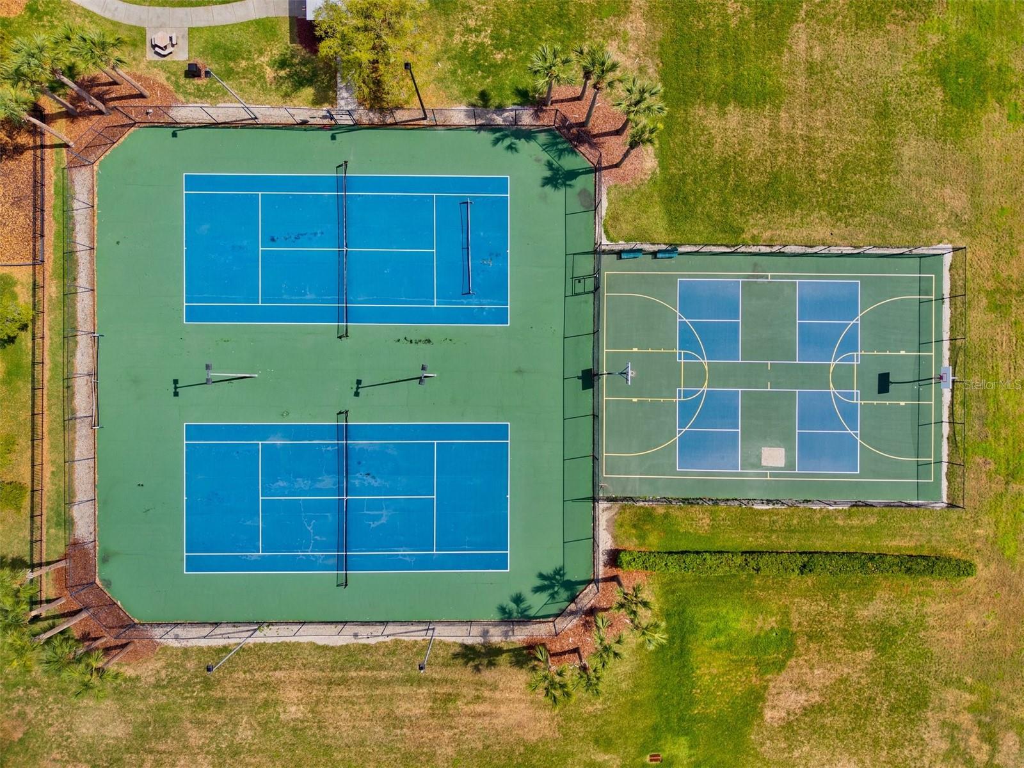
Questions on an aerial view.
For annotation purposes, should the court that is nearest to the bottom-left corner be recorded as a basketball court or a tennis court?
tennis court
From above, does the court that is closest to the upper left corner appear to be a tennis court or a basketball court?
tennis court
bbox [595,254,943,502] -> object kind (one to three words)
basketball court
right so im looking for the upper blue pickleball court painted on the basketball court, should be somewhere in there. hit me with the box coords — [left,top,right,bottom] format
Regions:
[677,279,860,363]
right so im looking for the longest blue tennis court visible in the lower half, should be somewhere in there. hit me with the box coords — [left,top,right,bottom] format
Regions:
[184,423,510,573]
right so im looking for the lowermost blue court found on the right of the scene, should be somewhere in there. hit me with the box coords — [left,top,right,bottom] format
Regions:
[677,388,860,473]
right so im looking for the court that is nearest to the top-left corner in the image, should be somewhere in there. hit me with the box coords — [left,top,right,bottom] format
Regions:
[184,173,509,325]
